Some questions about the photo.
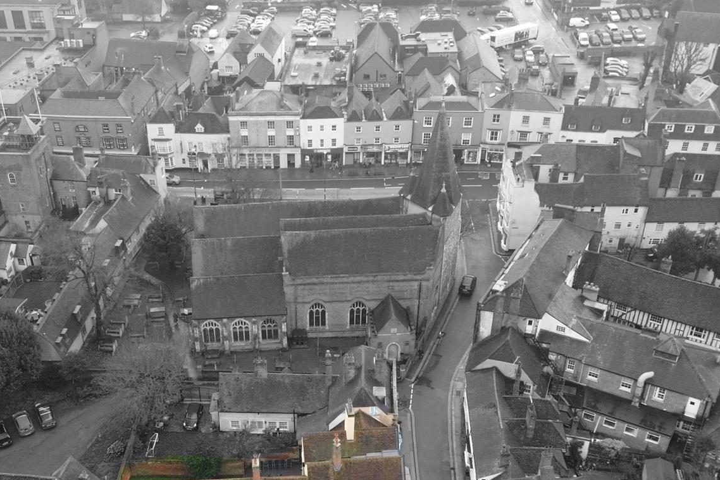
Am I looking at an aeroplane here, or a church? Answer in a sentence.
Looking from above, you can make out a church.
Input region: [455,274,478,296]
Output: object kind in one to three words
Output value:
car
